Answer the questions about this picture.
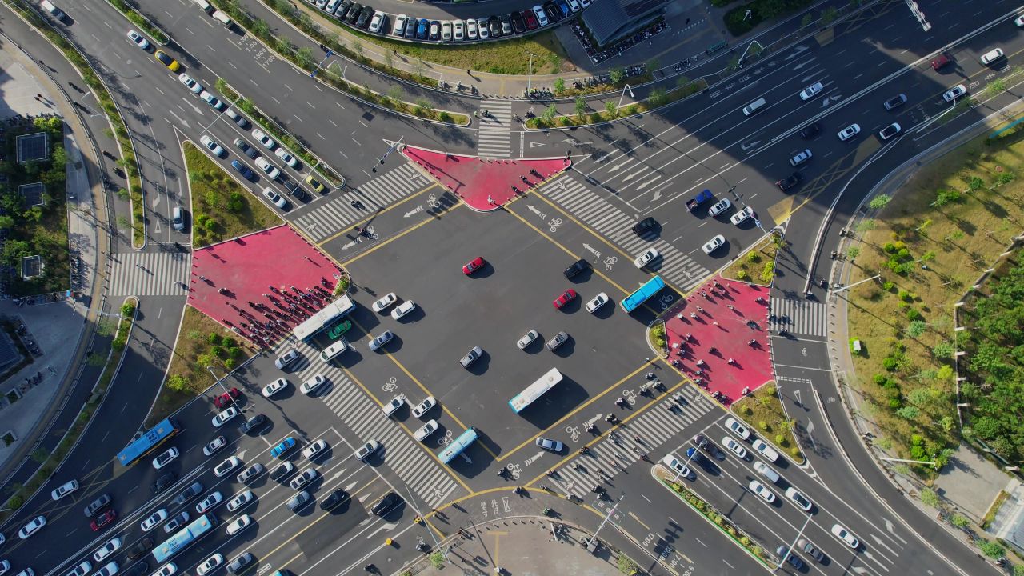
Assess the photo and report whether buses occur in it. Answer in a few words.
Yes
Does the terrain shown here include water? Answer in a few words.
No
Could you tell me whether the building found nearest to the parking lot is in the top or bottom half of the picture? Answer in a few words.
top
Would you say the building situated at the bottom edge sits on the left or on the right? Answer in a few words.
right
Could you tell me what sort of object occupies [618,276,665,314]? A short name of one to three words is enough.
bus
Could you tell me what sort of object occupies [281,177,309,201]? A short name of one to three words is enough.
truck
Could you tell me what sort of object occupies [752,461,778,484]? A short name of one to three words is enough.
vehicle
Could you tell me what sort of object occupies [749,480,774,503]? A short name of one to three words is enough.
car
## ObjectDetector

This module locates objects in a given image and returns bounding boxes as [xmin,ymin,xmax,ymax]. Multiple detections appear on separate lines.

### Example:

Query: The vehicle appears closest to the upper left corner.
[40,0,66,21]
